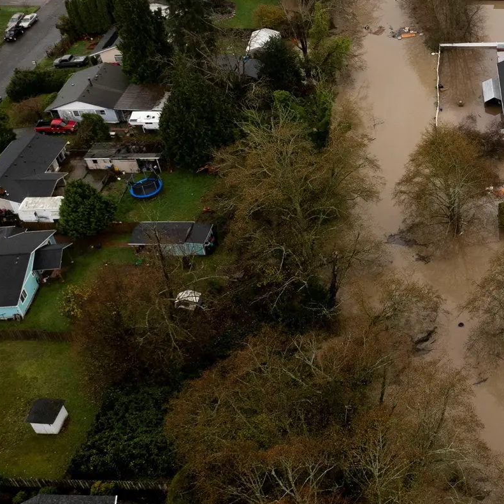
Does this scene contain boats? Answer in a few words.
No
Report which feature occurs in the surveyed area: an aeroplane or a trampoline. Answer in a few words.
trampoline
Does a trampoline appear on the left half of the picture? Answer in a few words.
Yes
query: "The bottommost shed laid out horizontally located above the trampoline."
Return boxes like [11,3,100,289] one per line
[84,142,159,170]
